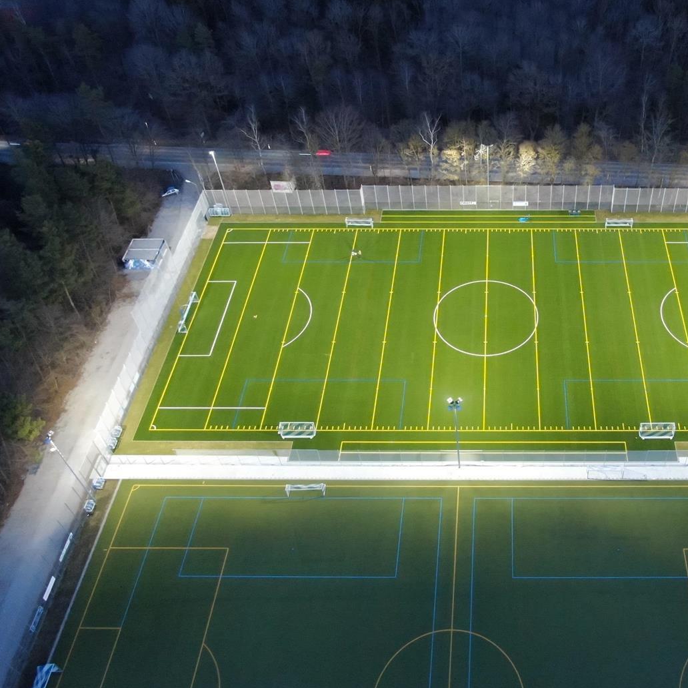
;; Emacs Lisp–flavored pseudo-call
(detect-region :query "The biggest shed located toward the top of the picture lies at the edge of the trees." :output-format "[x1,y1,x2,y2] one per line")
[119,237,162,268]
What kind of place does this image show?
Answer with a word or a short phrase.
sports ground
